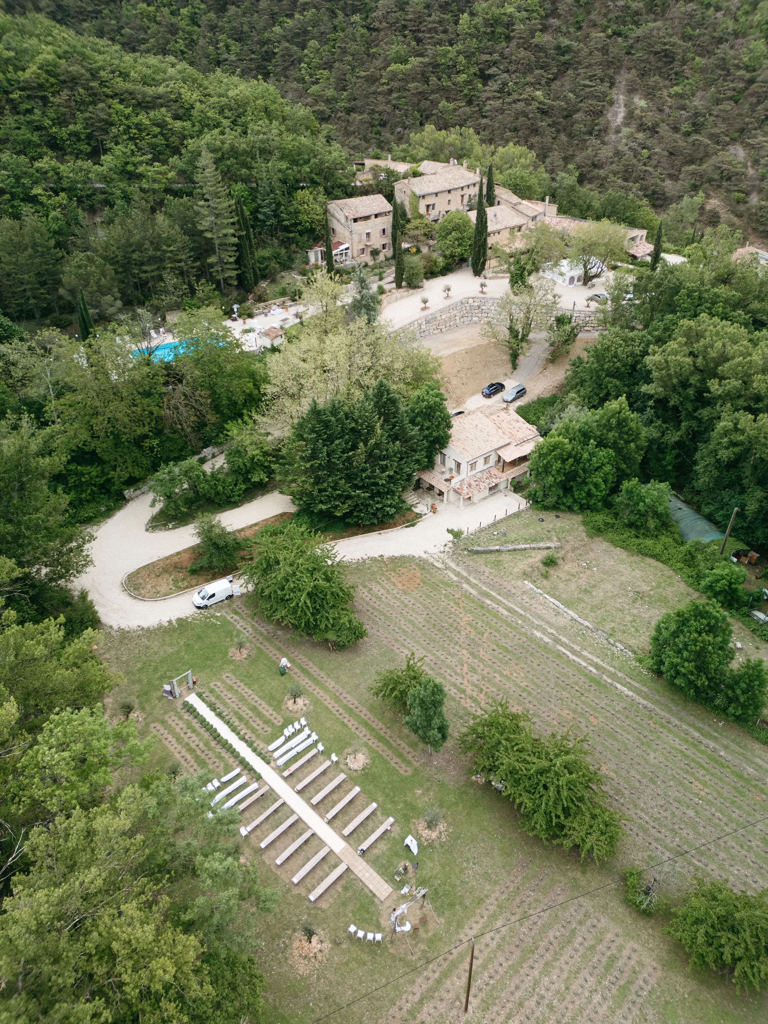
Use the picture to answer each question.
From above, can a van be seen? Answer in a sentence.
Yes, there's a van here.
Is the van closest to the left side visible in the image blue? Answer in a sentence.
No, the van closest to the left side is white.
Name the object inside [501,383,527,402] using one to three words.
car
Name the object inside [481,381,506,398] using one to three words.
car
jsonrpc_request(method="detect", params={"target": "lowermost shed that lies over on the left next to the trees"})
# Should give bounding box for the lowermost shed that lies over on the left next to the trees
[258,322,284,343]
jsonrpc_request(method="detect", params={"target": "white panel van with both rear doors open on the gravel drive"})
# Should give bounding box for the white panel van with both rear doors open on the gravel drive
[191,571,242,609]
